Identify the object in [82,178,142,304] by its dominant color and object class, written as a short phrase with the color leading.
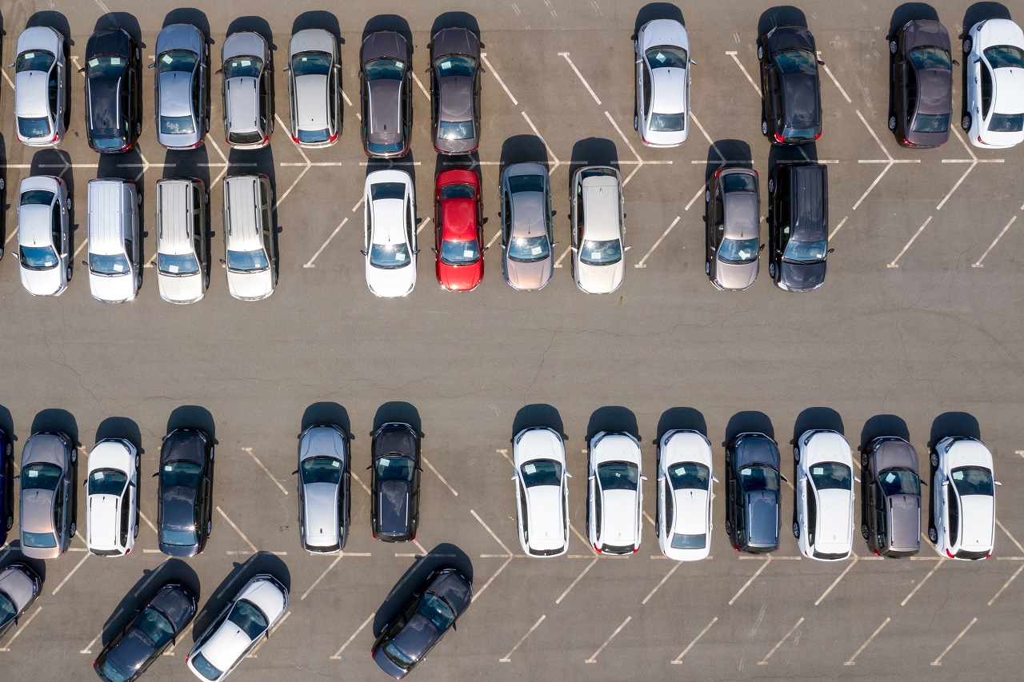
white van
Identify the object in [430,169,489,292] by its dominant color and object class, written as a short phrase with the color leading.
red car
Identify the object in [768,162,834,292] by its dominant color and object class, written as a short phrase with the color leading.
black van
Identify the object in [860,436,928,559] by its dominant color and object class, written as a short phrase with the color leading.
gray car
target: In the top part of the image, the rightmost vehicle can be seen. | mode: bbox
[961,19,1024,149]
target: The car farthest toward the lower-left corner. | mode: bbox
[0,562,44,651]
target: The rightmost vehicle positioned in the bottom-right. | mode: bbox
[929,437,1000,560]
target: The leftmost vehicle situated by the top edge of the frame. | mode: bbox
[8,26,68,146]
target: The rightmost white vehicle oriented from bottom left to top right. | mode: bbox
[185,573,284,682]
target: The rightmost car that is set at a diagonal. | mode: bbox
[371,566,470,682]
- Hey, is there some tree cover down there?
No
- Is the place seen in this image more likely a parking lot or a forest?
parking lot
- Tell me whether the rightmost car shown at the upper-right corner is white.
Yes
